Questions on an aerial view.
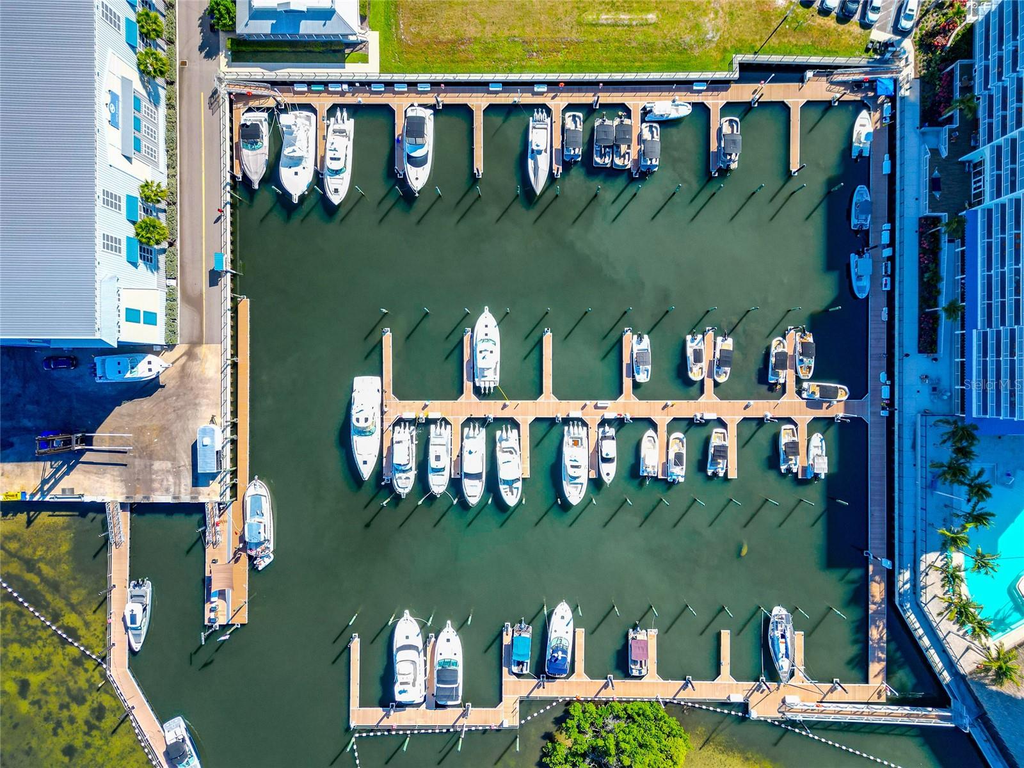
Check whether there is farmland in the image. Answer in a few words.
No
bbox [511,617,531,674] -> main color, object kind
blue boat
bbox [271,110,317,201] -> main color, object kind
white boat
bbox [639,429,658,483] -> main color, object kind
white boat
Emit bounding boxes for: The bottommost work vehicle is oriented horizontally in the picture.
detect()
[33,430,133,457]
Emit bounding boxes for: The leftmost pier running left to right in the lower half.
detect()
[351,699,519,728]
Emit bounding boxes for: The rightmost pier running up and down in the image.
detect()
[867,78,888,680]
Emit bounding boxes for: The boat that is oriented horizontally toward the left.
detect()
[89,354,174,382]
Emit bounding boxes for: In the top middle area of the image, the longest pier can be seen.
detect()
[235,81,869,107]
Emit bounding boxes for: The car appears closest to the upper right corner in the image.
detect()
[897,0,919,32]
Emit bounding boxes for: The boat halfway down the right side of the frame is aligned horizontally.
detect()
[796,382,850,402]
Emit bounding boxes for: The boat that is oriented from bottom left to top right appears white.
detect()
[254,555,275,571]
